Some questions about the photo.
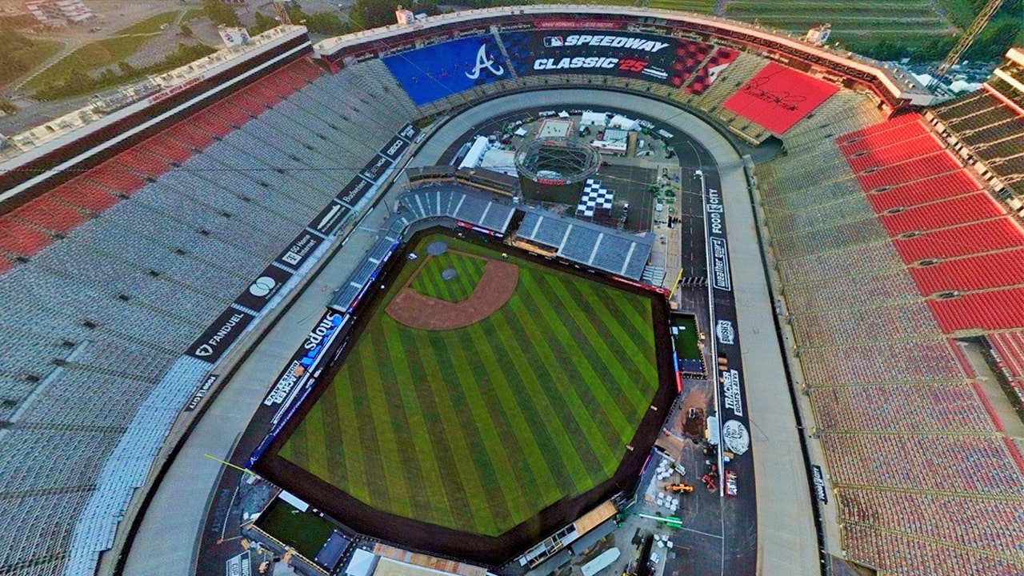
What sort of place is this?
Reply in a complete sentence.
The picture captures a sports ground.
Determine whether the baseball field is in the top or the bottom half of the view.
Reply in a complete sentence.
Seen from above, the baseball field lies in the bottom half of the view.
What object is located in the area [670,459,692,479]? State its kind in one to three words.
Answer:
vehicle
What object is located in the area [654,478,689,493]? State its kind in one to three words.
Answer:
work vehicle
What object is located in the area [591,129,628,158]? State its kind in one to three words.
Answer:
building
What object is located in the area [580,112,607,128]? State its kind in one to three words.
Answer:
tent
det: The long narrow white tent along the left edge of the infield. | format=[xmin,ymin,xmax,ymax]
[459,137,489,172]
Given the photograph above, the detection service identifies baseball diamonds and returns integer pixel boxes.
[251,225,680,565]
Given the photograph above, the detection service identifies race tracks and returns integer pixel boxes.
[98,80,855,576]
